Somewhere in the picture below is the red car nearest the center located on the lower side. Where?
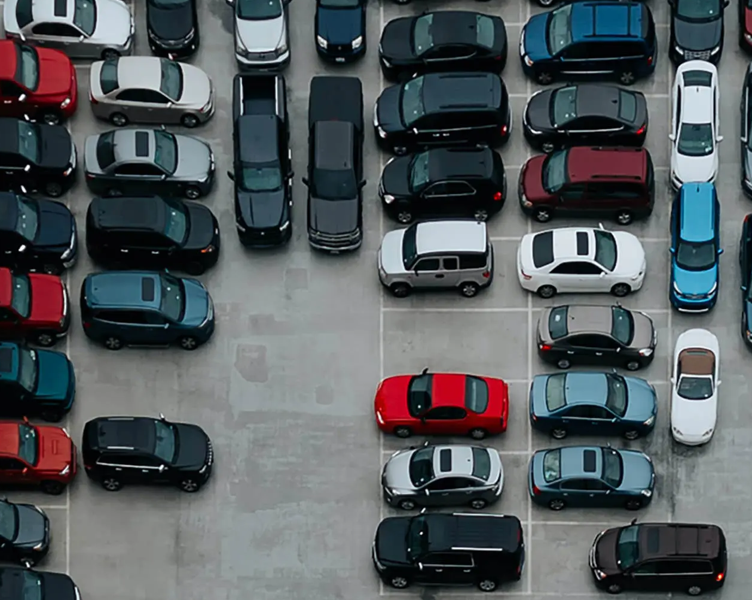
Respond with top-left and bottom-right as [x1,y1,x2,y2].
[374,370,508,440]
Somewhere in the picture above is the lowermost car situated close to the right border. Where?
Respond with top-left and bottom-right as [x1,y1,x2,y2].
[591,523,729,596]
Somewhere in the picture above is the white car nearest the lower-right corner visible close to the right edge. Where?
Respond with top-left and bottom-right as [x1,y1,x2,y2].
[670,329,723,442]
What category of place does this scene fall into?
parking lot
